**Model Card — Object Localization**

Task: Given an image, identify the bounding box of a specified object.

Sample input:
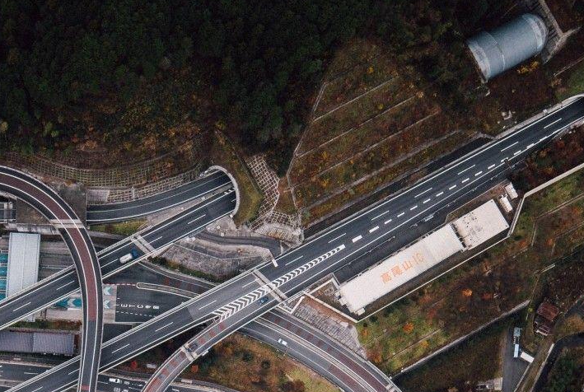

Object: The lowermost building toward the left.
[0,329,80,357]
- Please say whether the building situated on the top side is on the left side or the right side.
right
